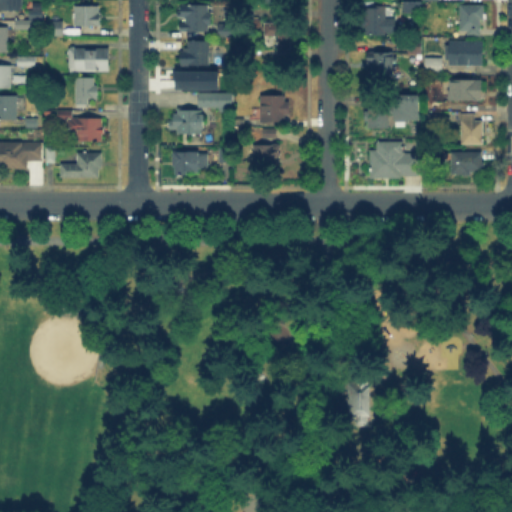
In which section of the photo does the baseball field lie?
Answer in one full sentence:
You can find the baseball field in the bottom left area of the picture.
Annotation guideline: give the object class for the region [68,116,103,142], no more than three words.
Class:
house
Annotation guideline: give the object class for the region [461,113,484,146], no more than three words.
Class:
house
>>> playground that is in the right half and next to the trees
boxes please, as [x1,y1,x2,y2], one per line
[420,338,462,370]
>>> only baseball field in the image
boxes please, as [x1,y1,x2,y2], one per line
[0,298,109,512]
